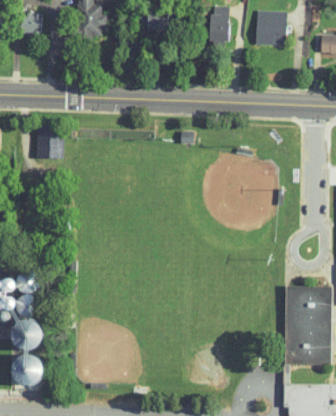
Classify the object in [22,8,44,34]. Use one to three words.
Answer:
house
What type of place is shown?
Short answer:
sports ground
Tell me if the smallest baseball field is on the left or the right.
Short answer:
left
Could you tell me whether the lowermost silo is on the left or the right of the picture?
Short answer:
left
